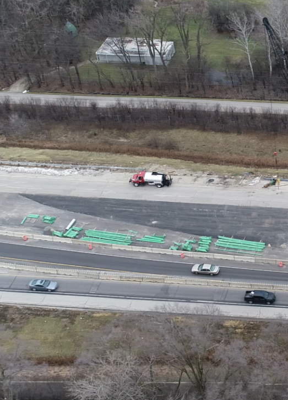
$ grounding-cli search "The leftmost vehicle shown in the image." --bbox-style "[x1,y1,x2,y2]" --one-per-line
[26,279,58,293]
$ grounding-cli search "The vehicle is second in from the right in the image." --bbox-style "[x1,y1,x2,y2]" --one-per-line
[191,264,220,276]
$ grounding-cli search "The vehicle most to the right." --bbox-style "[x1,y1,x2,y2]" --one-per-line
[242,288,278,305]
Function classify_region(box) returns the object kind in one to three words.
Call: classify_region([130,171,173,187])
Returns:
vehicle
